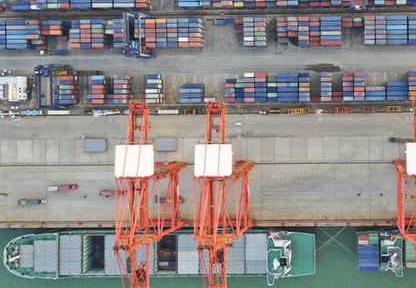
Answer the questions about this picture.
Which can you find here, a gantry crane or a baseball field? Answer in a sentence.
The one in the frame is a gantry crane.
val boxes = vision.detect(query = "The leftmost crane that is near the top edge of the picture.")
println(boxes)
[126,12,158,58]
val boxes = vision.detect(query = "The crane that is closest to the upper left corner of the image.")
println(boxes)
[38,65,76,110]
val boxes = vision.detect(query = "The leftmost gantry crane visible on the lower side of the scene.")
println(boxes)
[105,97,192,288]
